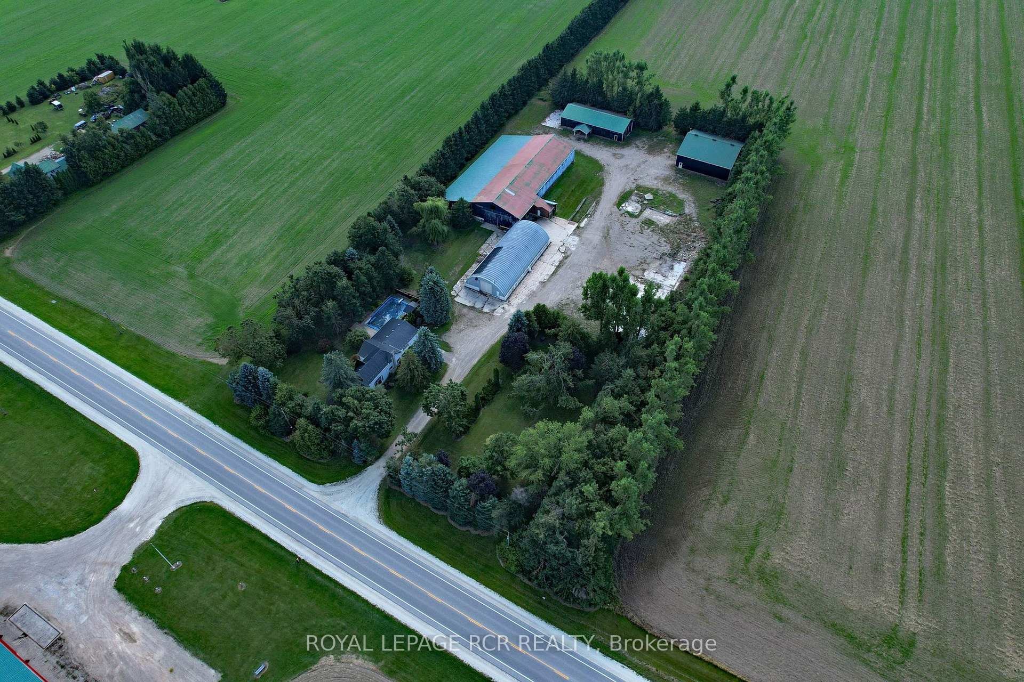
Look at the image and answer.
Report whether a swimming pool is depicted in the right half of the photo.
No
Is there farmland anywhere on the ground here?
Yes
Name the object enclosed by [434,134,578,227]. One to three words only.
barn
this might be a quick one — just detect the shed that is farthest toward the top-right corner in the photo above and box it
[675,128,748,179]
